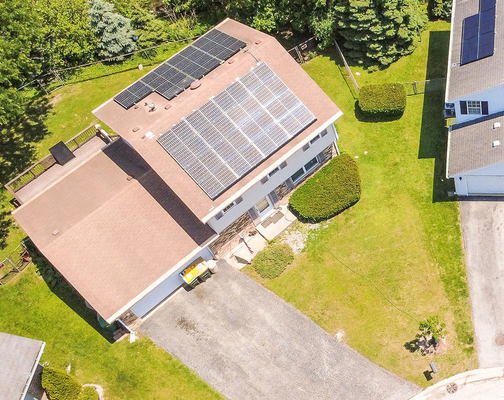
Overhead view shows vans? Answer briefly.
No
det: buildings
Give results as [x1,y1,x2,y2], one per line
[0,336,49,400]
[443,0,504,199]
[4,20,345,349]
